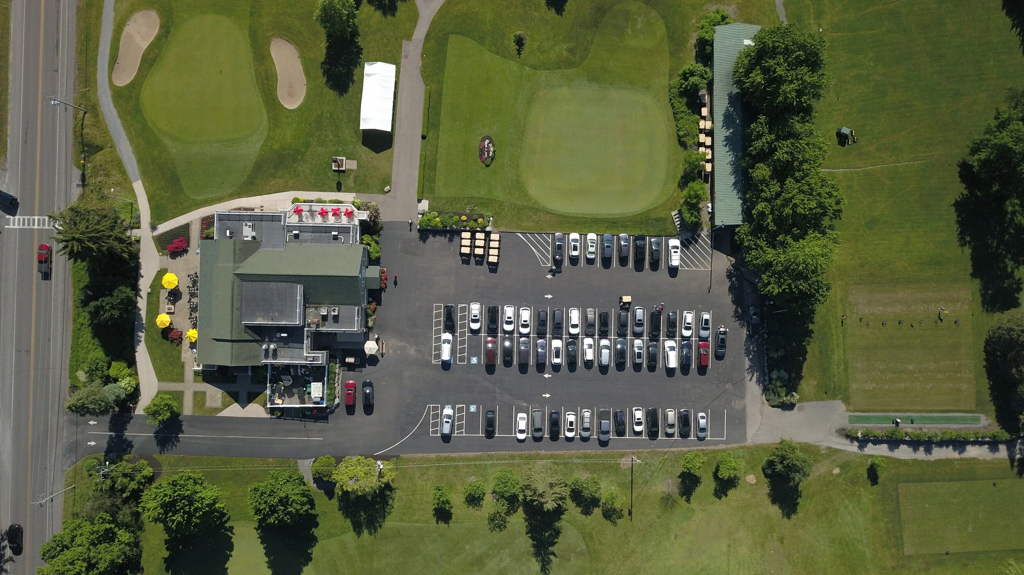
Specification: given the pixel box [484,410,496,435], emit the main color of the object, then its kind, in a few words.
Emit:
black vehicle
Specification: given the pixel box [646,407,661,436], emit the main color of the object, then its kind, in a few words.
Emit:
black car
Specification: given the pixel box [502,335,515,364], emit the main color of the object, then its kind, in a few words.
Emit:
black vehicle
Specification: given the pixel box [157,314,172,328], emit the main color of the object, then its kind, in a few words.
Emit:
yellow umbrella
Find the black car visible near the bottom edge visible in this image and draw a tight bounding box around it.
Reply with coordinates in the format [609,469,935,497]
[8,523,24,552]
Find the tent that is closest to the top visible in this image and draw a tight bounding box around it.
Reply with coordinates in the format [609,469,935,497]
[360,61,398,133]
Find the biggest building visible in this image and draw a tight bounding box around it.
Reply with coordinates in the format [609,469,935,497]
[192,203,381,374]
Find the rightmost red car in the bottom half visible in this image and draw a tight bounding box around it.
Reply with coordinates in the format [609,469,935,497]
[697,342,711,366]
